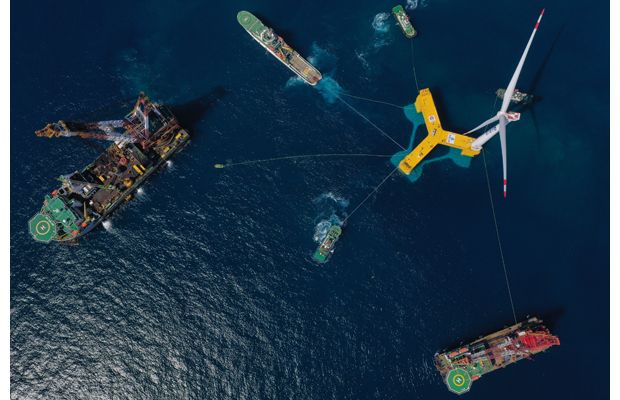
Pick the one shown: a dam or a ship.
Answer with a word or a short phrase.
ship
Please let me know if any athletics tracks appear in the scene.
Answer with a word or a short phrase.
No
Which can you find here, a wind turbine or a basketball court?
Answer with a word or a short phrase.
wind turbine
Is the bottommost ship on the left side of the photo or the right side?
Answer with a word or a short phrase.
right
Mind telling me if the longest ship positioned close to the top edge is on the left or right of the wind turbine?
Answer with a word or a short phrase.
to the left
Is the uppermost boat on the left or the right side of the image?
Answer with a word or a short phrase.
right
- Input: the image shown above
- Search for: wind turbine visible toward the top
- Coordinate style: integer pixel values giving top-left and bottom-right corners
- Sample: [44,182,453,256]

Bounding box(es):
[390,10,542,195]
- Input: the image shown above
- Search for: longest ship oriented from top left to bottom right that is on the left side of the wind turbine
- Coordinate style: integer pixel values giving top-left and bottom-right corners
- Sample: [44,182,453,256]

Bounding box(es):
[233,11,323,91]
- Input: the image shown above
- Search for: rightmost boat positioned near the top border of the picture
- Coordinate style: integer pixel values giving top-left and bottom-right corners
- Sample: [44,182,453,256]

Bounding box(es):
[393,6,417,42]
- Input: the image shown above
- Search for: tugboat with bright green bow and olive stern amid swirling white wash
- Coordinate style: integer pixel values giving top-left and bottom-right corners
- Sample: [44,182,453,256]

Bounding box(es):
[314,223,342,263]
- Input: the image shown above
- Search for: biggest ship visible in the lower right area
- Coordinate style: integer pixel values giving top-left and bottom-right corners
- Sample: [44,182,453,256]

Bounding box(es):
[437,313,563,394]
